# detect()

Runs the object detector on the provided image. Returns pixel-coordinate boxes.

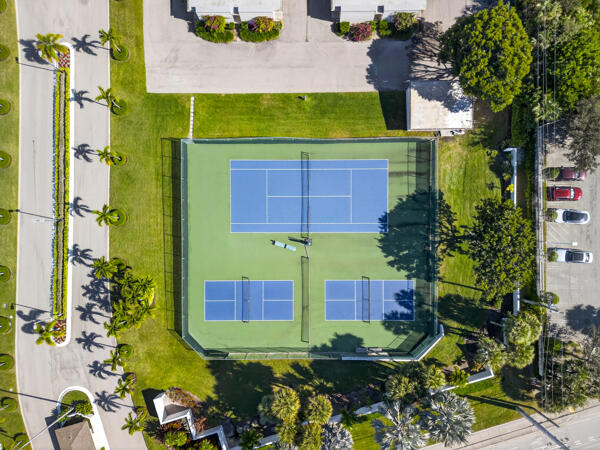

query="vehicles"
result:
[555,209,589,224]
[550,168,581,182]
[556,248,590,263]
[551,185,581,200]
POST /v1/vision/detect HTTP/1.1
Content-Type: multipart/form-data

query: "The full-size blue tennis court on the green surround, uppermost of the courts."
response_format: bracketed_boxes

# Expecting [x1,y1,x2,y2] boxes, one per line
[187,142,431,352]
